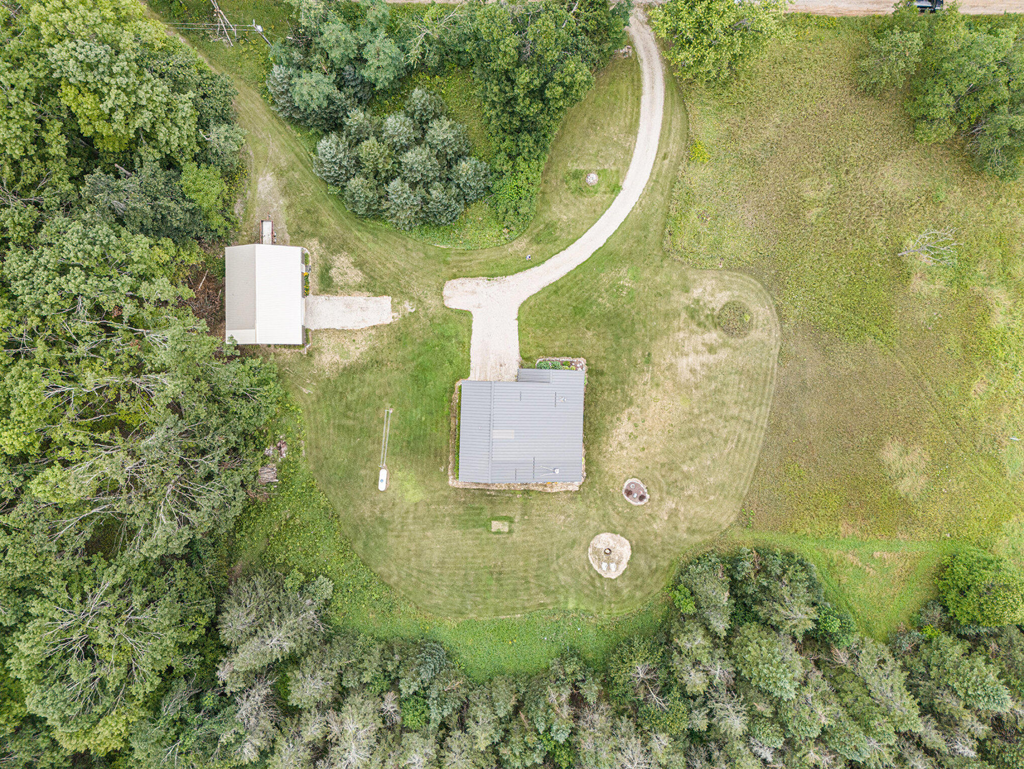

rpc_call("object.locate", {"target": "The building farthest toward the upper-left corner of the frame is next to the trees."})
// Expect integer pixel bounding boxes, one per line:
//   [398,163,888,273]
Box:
[225,243,310,345]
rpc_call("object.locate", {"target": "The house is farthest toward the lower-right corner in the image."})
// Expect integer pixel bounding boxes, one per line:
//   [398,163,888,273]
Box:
[458,369,586,484]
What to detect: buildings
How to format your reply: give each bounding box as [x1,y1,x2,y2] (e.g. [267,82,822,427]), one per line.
[225,243,310,345]
[458,369,586,484]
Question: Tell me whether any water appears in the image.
No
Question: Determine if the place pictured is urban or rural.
rural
